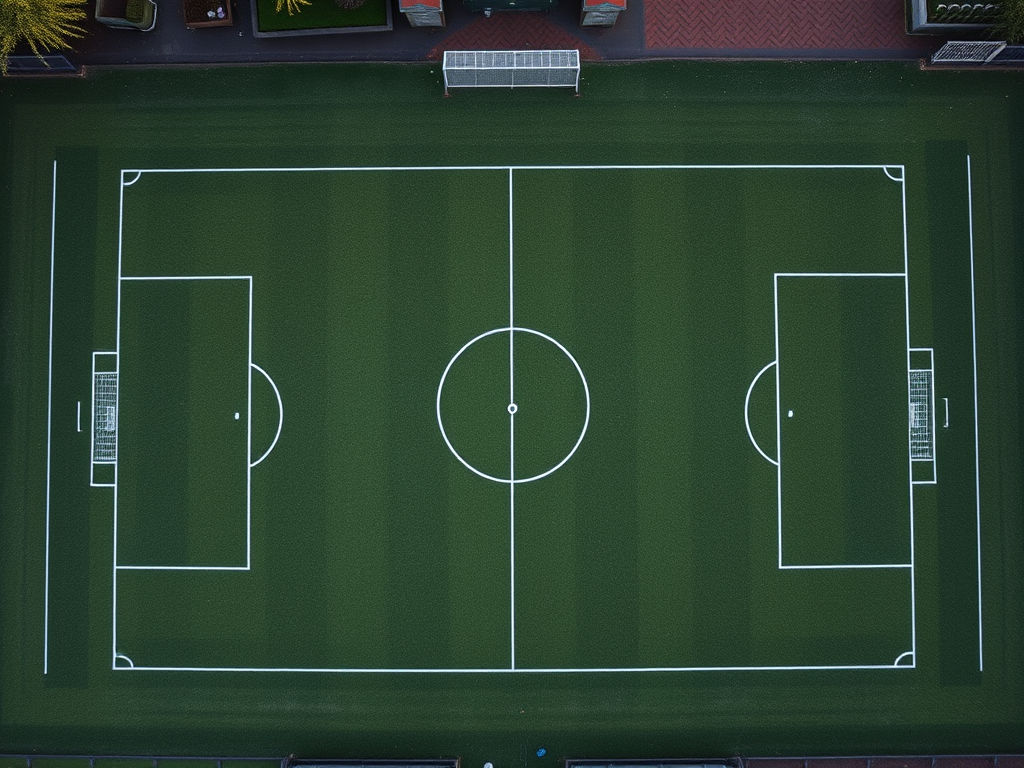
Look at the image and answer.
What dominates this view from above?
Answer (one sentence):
The largest share of the image is taken up by grass.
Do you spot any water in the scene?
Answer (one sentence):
No, no water is visible.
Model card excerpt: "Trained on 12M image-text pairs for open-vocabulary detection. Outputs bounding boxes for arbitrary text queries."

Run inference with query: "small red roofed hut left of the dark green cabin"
[399,0,445,28]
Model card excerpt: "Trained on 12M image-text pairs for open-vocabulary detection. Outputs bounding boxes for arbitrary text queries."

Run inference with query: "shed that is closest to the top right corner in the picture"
[582,0,626,28]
